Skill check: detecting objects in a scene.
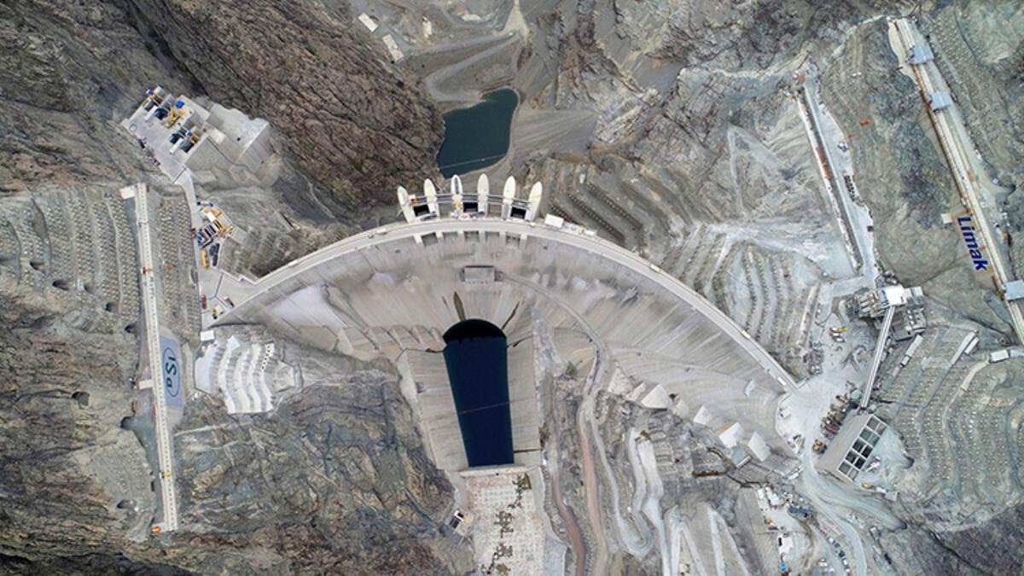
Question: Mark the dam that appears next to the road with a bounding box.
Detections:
[204,174,801,468]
